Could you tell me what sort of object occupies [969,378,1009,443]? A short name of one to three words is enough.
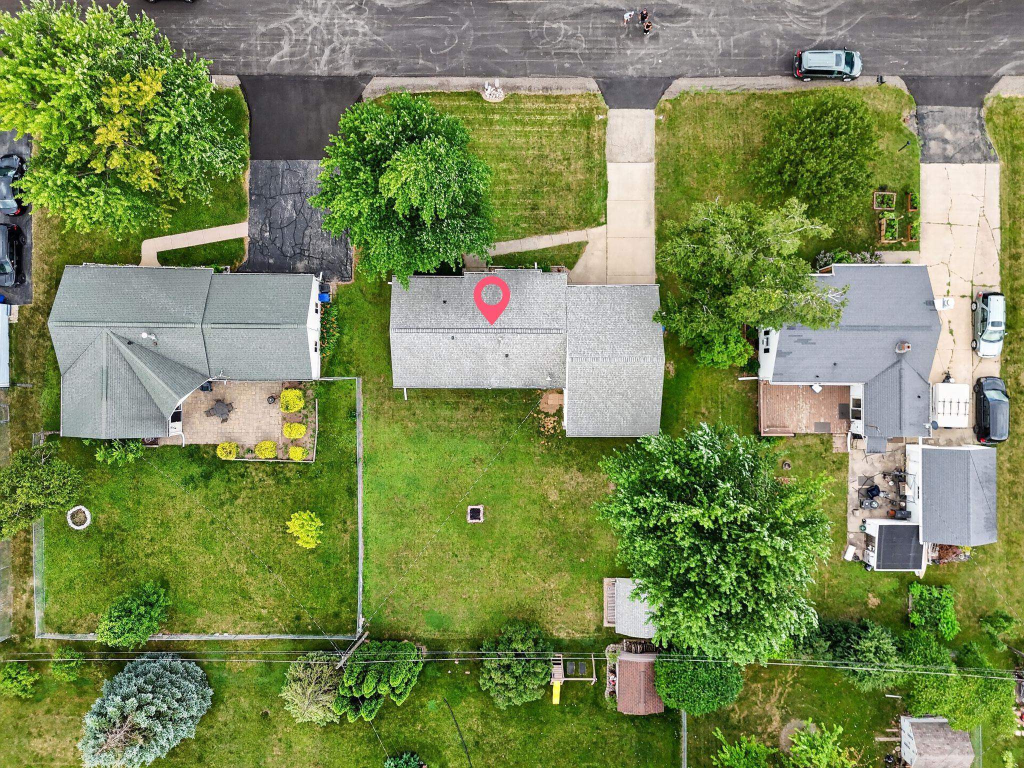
car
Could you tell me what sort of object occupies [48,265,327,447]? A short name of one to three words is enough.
house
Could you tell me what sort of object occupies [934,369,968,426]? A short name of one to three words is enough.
trailer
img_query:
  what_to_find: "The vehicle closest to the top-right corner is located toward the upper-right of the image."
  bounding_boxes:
[790,48,860,86]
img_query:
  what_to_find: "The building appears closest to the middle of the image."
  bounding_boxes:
[388,262,664,438]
